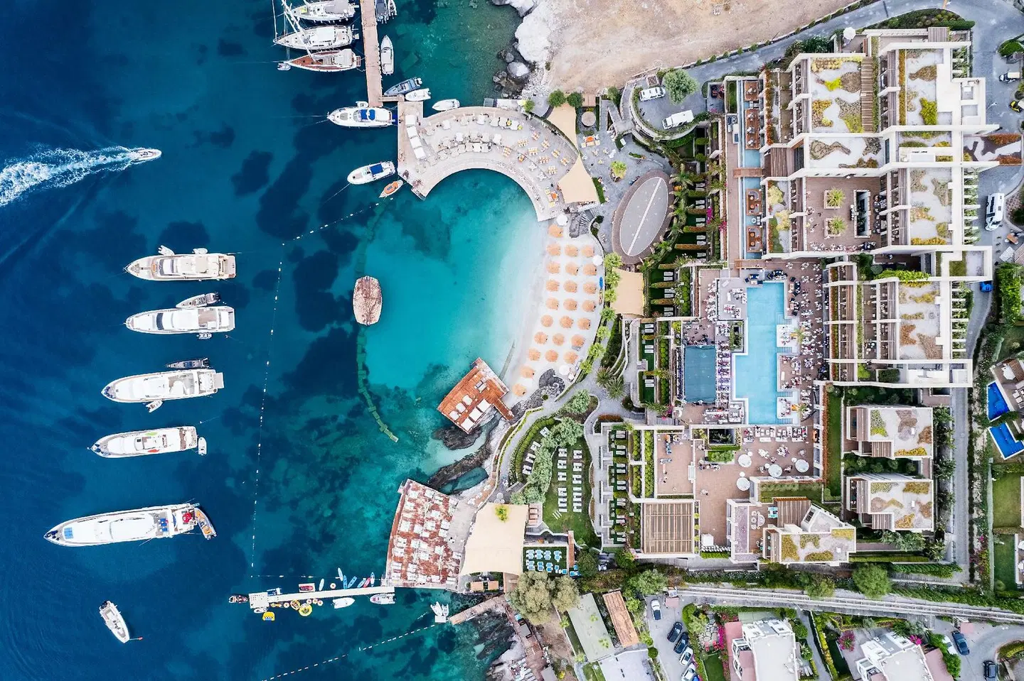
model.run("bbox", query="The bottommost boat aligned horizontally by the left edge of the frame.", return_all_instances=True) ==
[44,503,210,541]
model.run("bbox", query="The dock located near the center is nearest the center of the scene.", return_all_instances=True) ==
[437,357,513,434]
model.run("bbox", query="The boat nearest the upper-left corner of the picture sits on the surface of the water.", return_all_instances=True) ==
[128,149,162,161]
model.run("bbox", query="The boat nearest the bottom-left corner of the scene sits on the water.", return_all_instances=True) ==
[97,599,129,643]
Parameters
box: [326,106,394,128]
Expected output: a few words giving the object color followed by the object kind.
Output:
white boat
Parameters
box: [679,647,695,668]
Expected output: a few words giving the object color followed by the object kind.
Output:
white car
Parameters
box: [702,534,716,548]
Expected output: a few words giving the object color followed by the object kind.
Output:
white gazebo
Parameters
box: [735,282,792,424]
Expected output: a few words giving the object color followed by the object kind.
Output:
blue swimming pool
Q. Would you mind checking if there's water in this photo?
Yes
